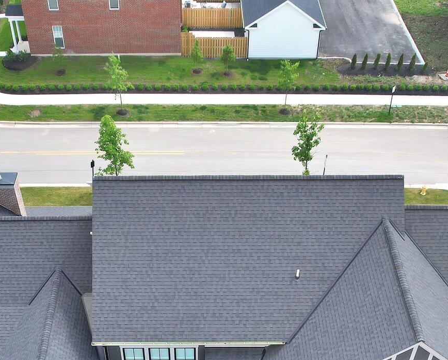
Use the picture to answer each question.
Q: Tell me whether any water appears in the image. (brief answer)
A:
No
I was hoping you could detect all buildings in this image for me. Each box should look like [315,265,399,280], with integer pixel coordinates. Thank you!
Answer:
[242,0,326,58]
[0,0,183,55]
[0,162,448,360]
